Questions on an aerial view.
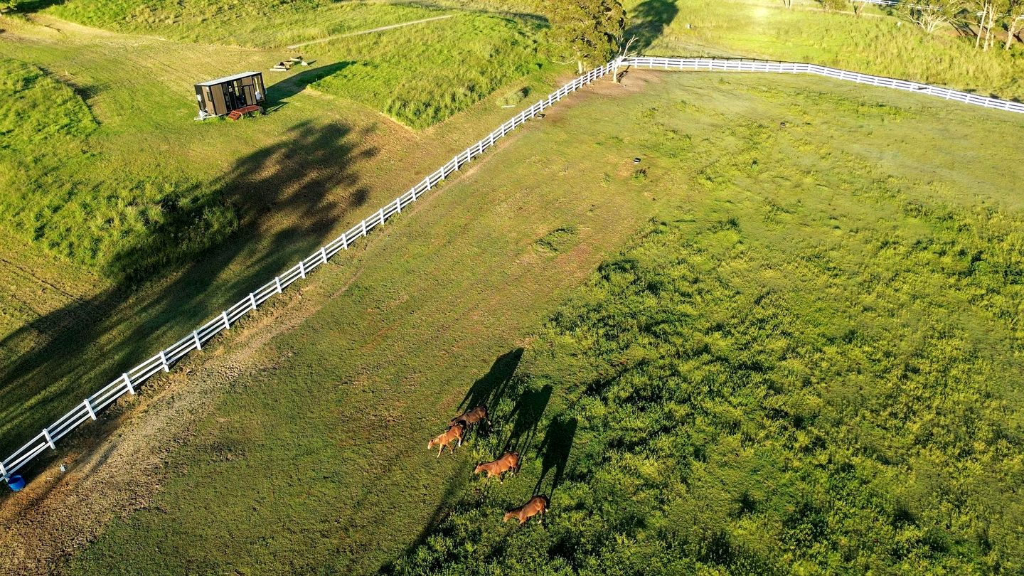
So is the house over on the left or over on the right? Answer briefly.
left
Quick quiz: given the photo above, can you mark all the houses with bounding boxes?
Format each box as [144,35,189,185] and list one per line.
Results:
[194,70,266,122]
